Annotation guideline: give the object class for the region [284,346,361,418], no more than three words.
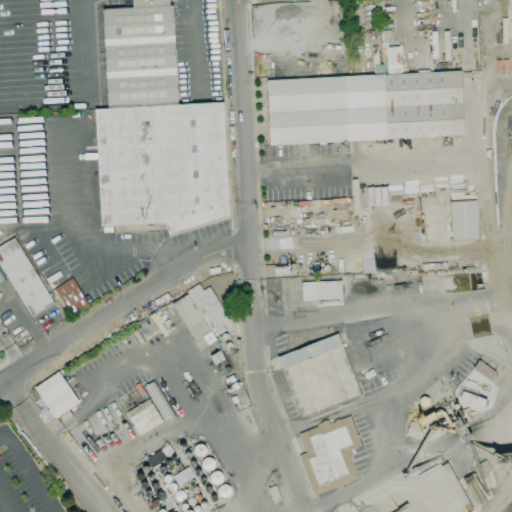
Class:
building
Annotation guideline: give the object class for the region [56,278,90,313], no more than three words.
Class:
building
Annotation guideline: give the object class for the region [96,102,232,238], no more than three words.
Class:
warehouse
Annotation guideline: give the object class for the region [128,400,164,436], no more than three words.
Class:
shed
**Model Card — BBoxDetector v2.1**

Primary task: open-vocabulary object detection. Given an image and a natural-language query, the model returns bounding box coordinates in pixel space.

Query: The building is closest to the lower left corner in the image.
[35,372,81,420]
